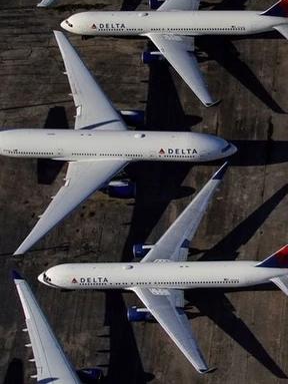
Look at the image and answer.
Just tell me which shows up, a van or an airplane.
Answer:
airplane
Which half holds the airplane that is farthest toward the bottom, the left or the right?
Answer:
left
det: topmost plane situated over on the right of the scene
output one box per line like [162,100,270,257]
[59,0,288,105]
